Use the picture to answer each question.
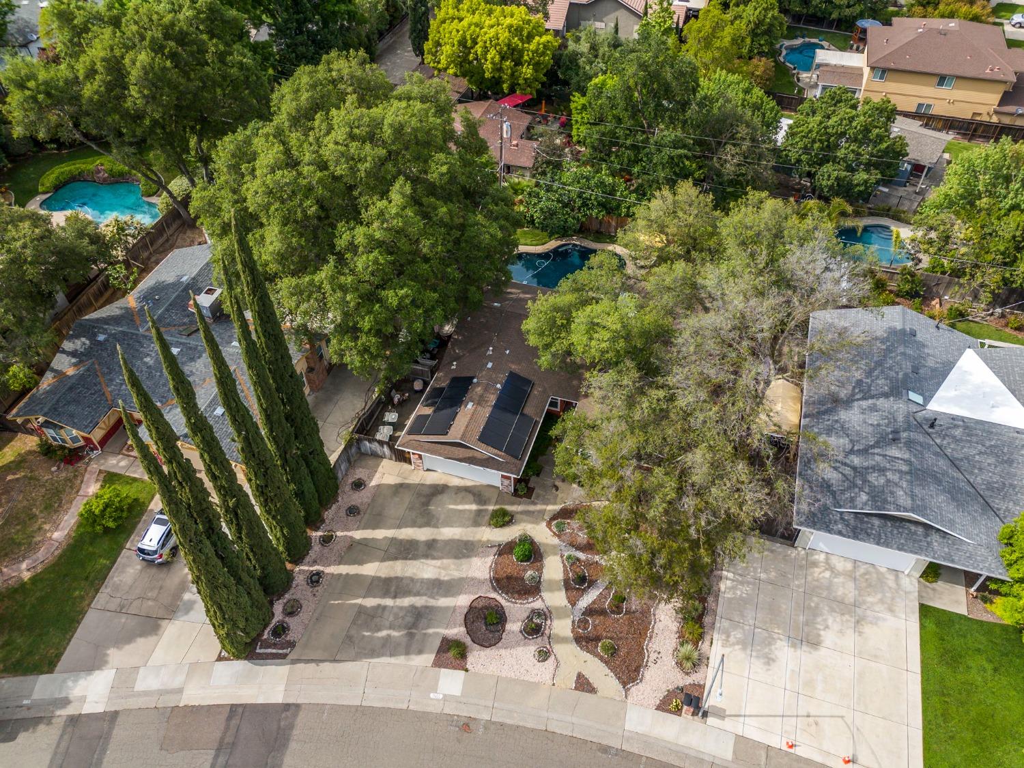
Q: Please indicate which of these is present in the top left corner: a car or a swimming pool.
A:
swimming pool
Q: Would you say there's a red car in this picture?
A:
No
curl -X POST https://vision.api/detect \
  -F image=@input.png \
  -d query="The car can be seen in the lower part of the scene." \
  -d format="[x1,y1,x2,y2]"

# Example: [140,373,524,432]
[136,501,182,563]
